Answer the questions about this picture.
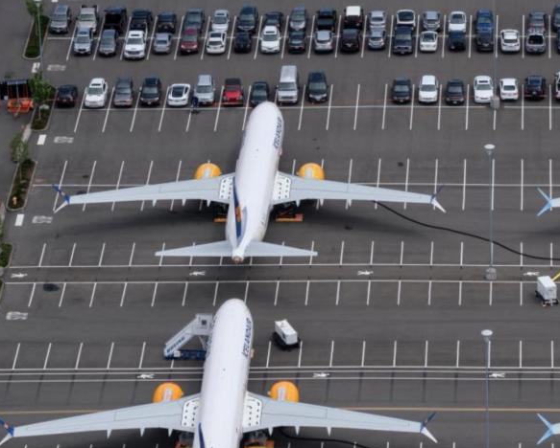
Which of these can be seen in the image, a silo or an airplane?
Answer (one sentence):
Looking from above, you can make out an airplane.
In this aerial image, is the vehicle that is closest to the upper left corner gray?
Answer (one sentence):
Yes, the vehicle that is closest to the upper left corner is indeed gray.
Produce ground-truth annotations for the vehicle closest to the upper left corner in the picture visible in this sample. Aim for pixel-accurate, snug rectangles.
[49,5,73,33]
